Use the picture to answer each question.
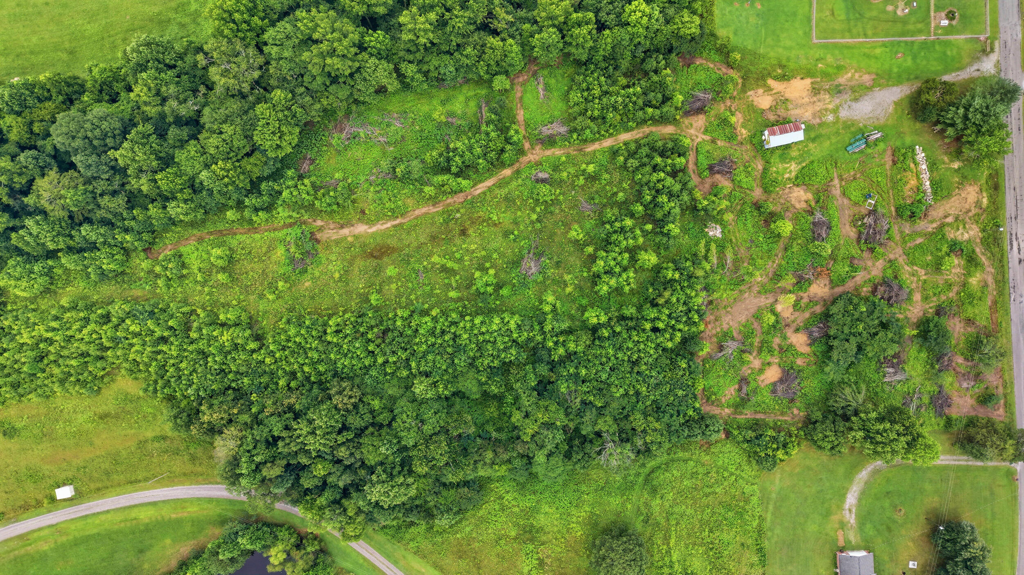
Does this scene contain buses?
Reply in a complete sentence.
No, I can see no bus in this picture.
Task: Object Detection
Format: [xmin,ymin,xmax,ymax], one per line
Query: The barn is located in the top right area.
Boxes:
[761,121,809,149]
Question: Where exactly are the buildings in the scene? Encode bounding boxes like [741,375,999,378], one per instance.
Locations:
[52,485,76,502]
[761,121,809,149]
[827,548,881,575]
